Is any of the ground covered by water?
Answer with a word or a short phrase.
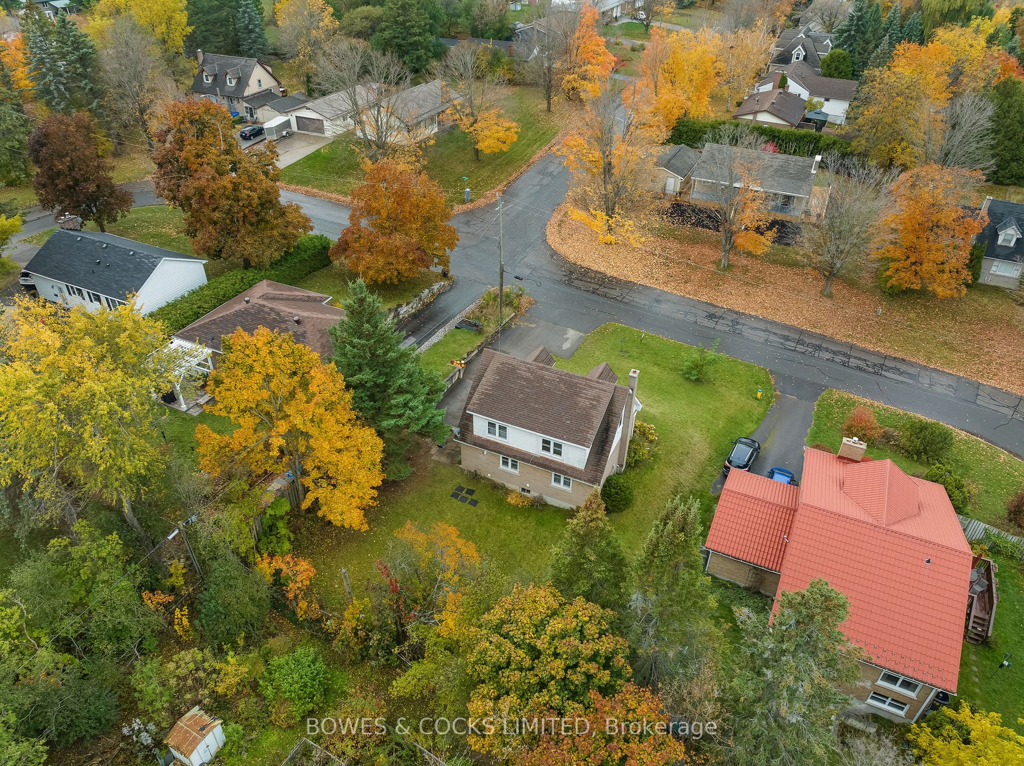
No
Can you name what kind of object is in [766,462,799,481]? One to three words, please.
car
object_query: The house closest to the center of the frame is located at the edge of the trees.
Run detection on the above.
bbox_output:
[449,342,646,510]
